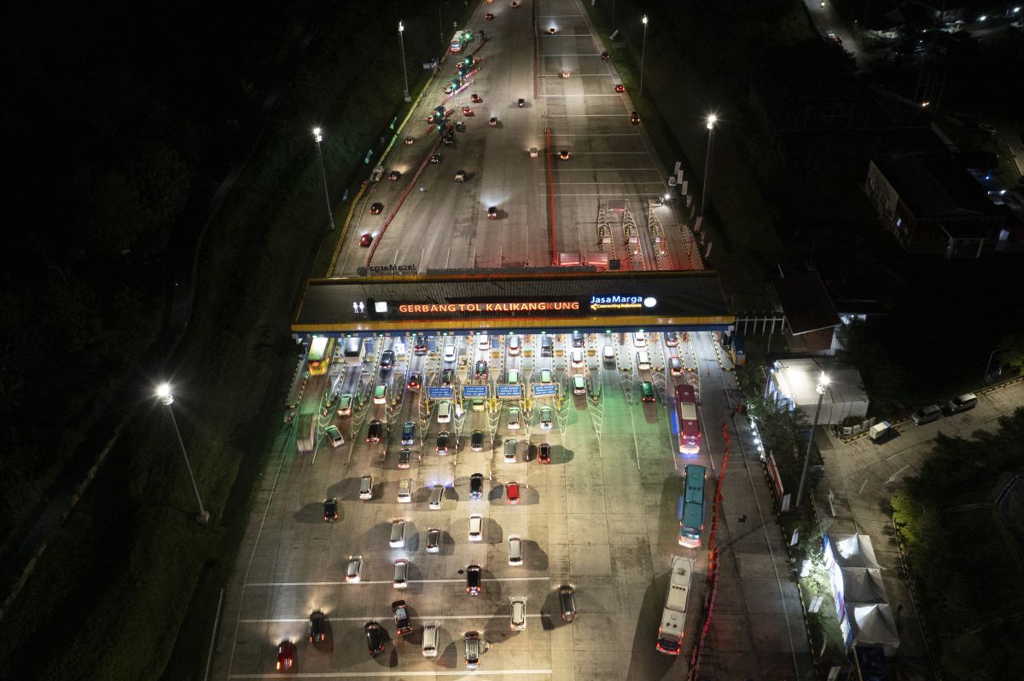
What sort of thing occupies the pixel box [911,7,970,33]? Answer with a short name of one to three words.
house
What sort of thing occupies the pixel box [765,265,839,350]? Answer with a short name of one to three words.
house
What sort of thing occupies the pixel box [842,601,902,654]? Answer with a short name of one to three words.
tent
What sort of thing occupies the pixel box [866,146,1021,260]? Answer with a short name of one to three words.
building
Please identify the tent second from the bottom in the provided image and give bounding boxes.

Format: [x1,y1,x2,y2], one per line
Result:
[837,565,892,612]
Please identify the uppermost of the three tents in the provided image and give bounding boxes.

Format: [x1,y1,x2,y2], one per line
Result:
[831,532,882,567]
